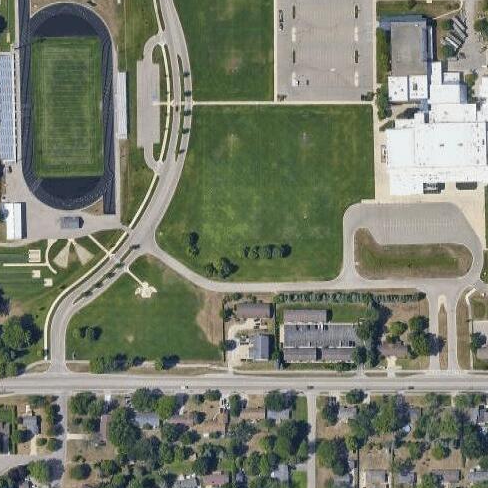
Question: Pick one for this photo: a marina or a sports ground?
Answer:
sports ground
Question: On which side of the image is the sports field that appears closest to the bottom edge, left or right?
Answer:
left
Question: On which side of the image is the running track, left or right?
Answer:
left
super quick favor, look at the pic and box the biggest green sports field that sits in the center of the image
[154,105,373,282]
